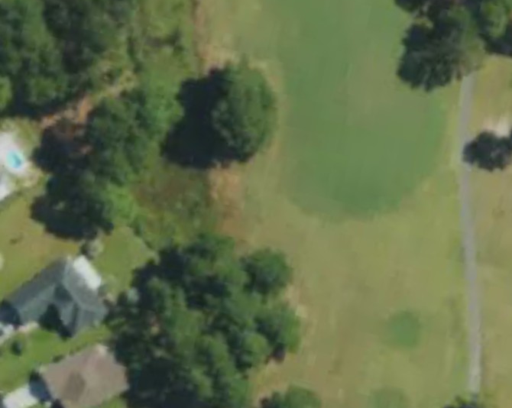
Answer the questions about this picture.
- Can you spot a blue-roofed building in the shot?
No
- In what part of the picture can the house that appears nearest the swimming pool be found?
bottom left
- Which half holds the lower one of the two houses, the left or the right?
left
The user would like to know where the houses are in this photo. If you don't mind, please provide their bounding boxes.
[39,340,130,408]
[0,255,110,342]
